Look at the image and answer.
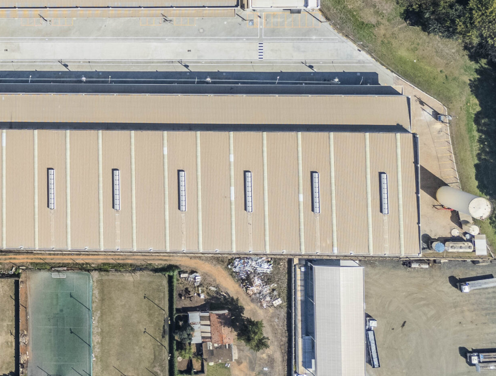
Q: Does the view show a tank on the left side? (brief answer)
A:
No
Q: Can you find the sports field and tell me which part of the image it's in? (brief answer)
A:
bottom left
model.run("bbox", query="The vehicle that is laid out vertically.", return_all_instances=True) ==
[365,316,379,368]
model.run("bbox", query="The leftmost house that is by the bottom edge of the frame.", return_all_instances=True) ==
[187,311,234,362]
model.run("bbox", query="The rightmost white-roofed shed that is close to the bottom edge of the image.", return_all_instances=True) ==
[304,258,366,376]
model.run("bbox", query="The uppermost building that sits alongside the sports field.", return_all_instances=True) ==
[0,81,425,257]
